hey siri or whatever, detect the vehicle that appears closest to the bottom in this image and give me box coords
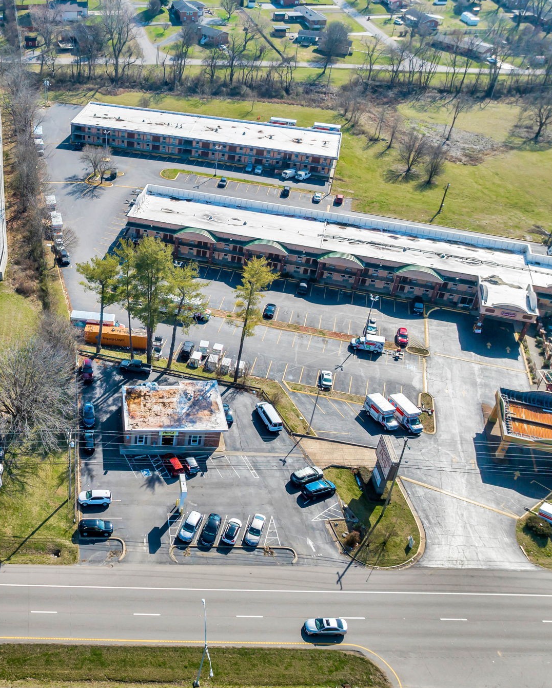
[302,618,348,639]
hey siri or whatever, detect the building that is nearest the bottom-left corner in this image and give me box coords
[121,378,229,445]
